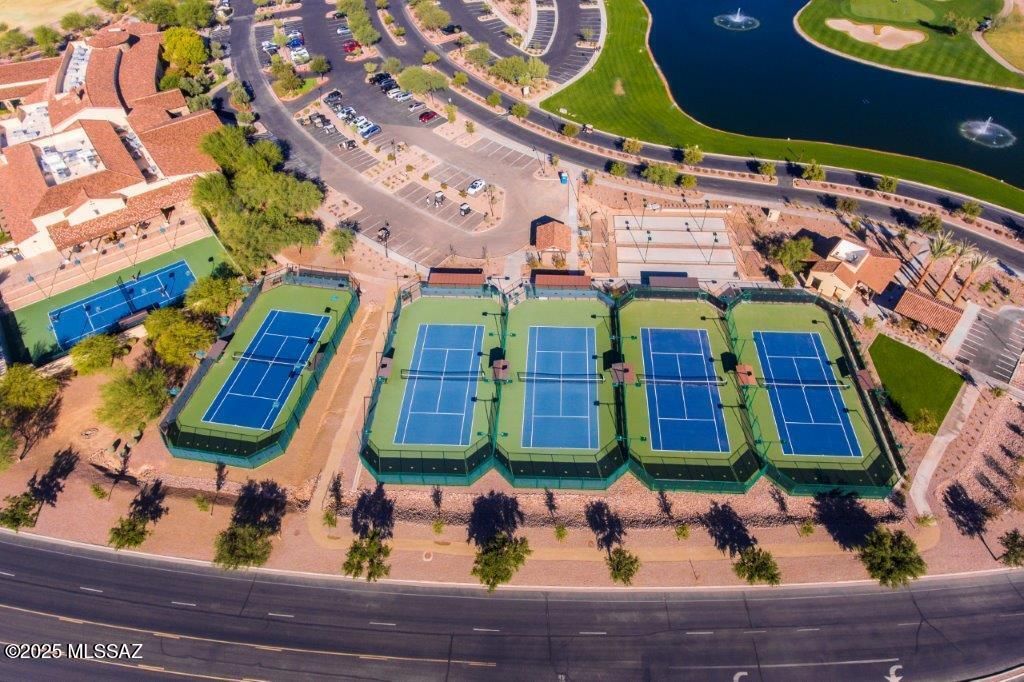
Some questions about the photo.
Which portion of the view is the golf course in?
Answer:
top right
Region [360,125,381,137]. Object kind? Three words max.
vehicle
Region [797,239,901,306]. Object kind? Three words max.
building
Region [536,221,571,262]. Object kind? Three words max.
building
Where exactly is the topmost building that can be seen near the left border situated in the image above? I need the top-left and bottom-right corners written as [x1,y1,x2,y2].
[0,23,228,261]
